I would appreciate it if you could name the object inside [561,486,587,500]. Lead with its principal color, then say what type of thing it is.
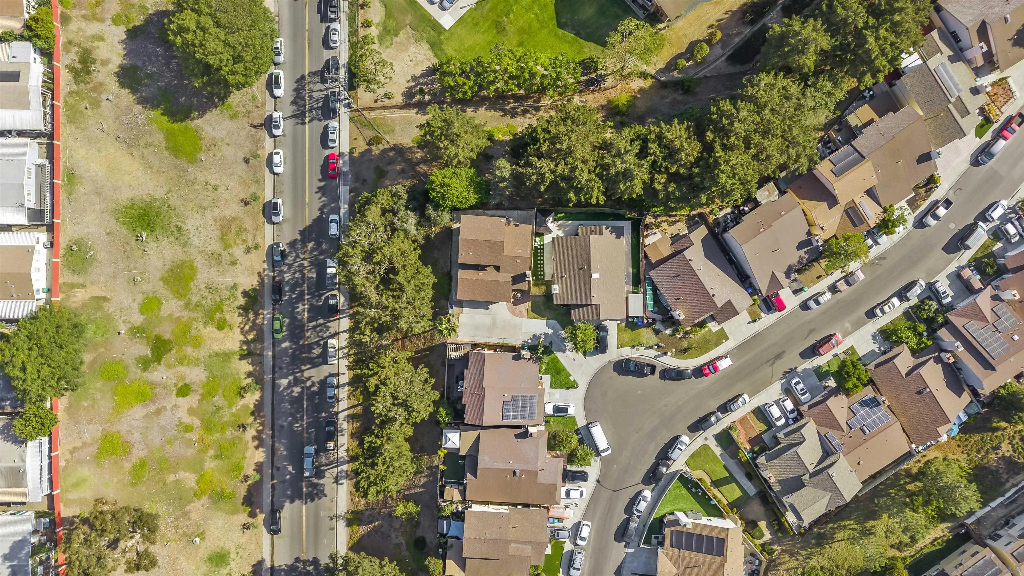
white car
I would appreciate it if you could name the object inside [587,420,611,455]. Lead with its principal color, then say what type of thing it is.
white vehicle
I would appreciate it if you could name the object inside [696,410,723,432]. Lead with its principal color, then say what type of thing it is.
gray car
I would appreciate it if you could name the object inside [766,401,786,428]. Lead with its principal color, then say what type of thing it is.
white car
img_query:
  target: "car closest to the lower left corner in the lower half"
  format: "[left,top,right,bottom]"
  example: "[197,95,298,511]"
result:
[269,508,282,536]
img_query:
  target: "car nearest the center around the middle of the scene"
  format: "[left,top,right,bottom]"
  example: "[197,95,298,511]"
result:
[597,324,611,354]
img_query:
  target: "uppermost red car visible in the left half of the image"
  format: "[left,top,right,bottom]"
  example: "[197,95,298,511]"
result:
[327,153,340,179]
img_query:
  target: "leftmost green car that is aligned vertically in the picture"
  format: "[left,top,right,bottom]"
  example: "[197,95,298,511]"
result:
[272,313,285,340]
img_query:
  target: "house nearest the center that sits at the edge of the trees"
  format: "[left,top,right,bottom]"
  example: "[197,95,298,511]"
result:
[457,215,532,302]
